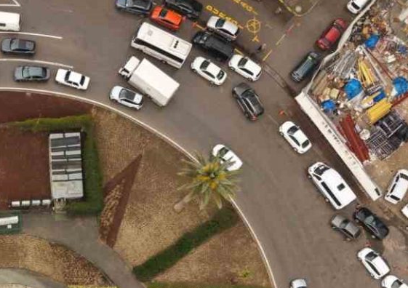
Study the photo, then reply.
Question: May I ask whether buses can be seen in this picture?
Yes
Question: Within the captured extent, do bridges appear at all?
No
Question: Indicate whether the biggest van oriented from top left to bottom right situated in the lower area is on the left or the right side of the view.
right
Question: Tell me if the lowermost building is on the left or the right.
left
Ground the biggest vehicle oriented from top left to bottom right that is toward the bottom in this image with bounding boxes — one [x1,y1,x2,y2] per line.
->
[304,164,360,211]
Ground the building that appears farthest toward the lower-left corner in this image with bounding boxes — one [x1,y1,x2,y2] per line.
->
[47,131,85,203]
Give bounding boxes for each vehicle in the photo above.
[13,64,49,83]
[1,36,36,56]
[205,15,239,40]
[380,275,408,288]
[0,11,20,32]
[129,22,193,69]
[232,84,265,121]
[383,168,408,205]
[151,8,184,31]
[277,120,313,154]
[399,202,408,220]
[117,56,181,108]
[192,33,235,62]
[345,0,368,16]
[211,143,244,173]
[108,86,143,109]
[55,69,89,89]
[191,57,228,85]
[356,247,393,280]
[351,207,392,240]
[304,164,360,211]
[290,280,307,288]
[329,215,363,241]
[163,0,204,20]
[116,0,154,15]
[227,55,262,82]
